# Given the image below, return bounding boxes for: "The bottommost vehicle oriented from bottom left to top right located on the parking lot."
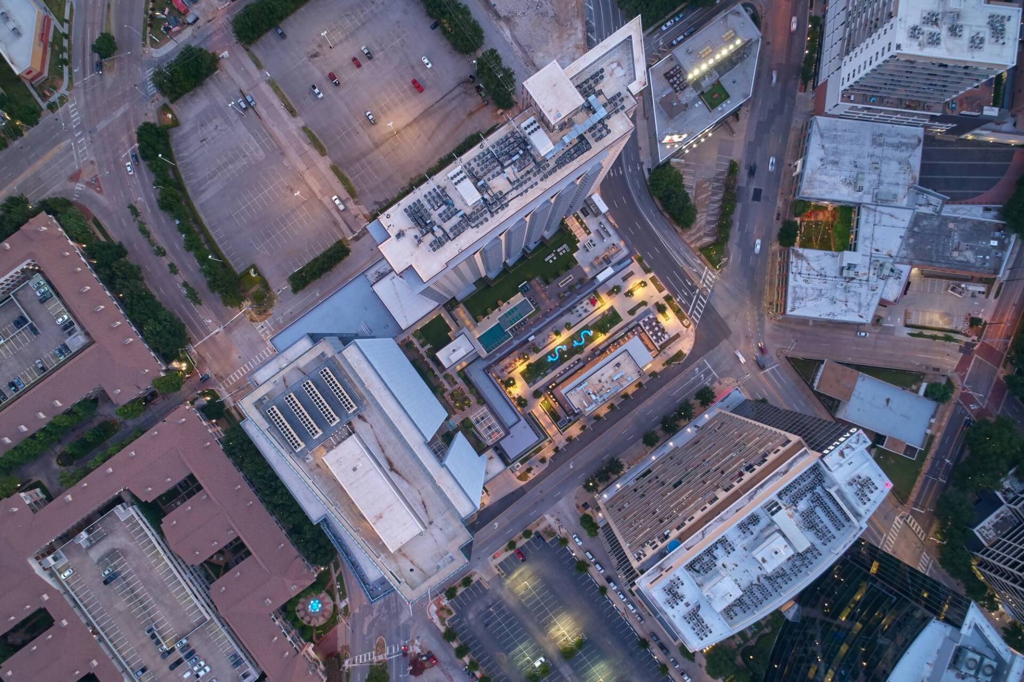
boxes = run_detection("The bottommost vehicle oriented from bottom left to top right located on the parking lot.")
[532,656,547,670]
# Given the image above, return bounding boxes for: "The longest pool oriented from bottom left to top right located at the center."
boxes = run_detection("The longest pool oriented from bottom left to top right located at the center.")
[477,297,536,355]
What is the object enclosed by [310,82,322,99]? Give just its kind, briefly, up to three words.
vehicle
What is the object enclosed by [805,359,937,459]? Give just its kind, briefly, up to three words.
building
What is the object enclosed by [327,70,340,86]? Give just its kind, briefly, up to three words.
vehicle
